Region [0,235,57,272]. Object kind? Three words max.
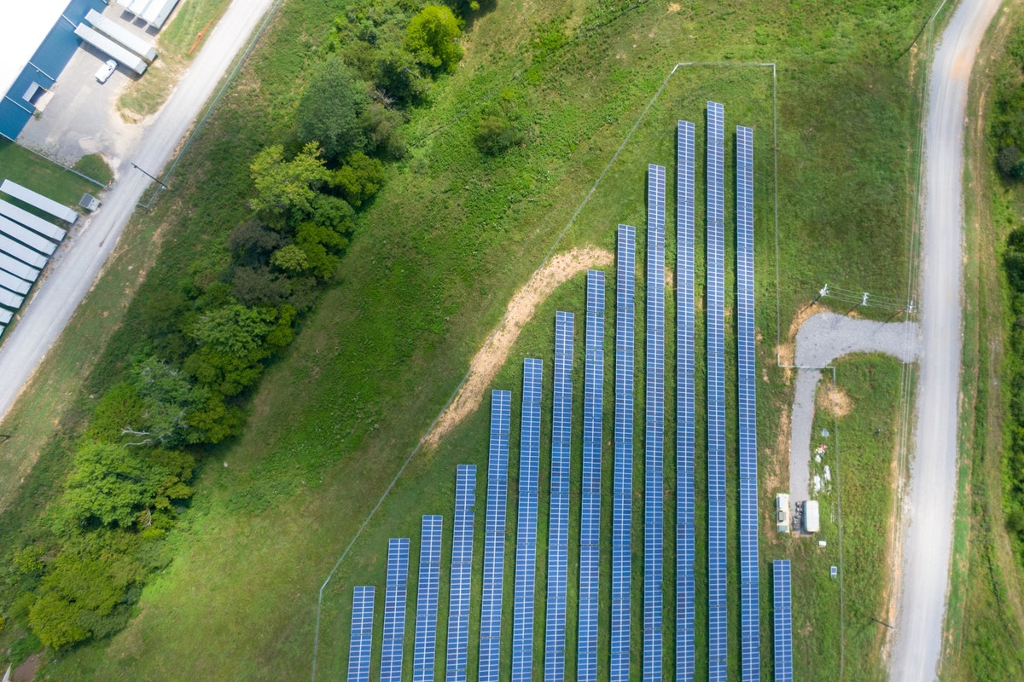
trailer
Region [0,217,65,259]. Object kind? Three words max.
trailer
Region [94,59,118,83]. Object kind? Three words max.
truck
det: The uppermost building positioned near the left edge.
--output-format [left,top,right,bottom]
[0,0,112,139]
